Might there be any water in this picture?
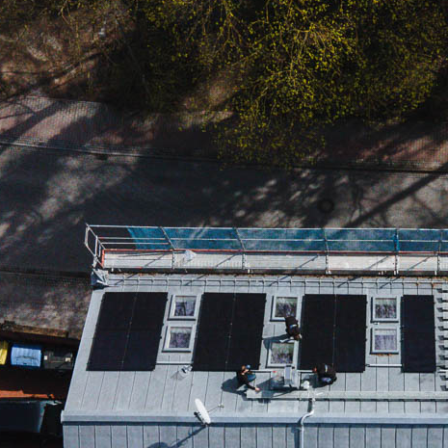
No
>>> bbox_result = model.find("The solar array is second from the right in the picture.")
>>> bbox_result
[298,295,368,372]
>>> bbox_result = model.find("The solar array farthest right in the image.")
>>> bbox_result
[401,295,436,372]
